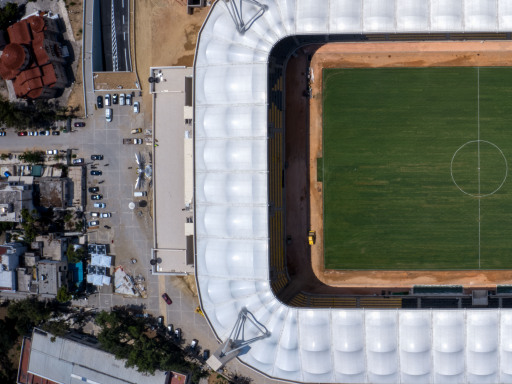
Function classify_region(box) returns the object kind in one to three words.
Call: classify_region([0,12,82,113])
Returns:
building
